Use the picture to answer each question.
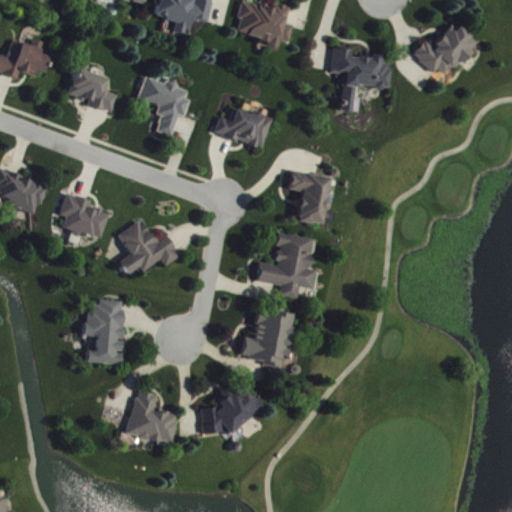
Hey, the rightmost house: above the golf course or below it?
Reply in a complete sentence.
In the image, the rightmost house appears above the golf course.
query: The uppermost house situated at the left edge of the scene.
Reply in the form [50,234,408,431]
[0,39,52,82]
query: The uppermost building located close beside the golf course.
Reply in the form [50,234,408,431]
[410,24,480,74]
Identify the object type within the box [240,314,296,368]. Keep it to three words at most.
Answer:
house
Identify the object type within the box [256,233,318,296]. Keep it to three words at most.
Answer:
house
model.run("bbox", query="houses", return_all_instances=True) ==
[64,68,118,112]
[256,233,318,296]
[0,39,52,82]
[151,0,208,33]
[0,170,48,214]
[280,170,335,225]
[195,392,262,437]
[138,75,191,133]
[326,46,394,111]
[86,297,126,364]
[126,391,180,446]
[212,106,272,148]
[58,192,112,239]
[237,0,293,50]
[116,218,179,276]
[240,314,296,368]
[410,24,480,74]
